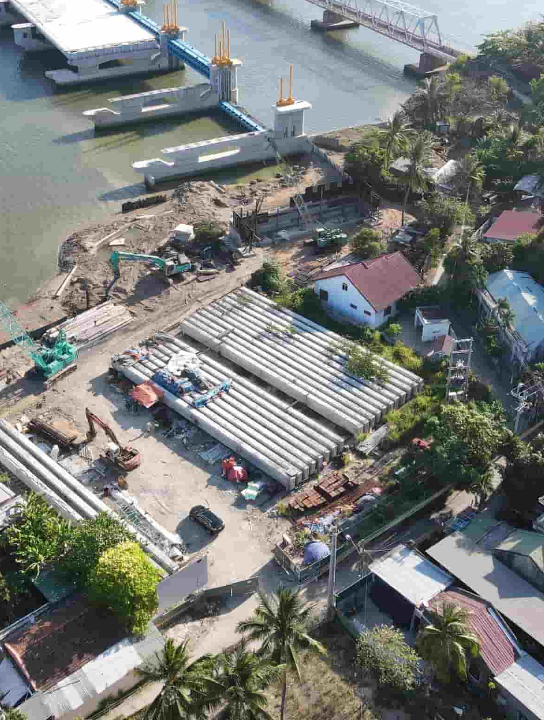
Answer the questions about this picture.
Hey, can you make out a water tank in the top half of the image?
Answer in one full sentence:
No, in the top half of the image there is no water tank.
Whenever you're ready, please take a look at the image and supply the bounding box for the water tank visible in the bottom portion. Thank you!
[304,534,332,563]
